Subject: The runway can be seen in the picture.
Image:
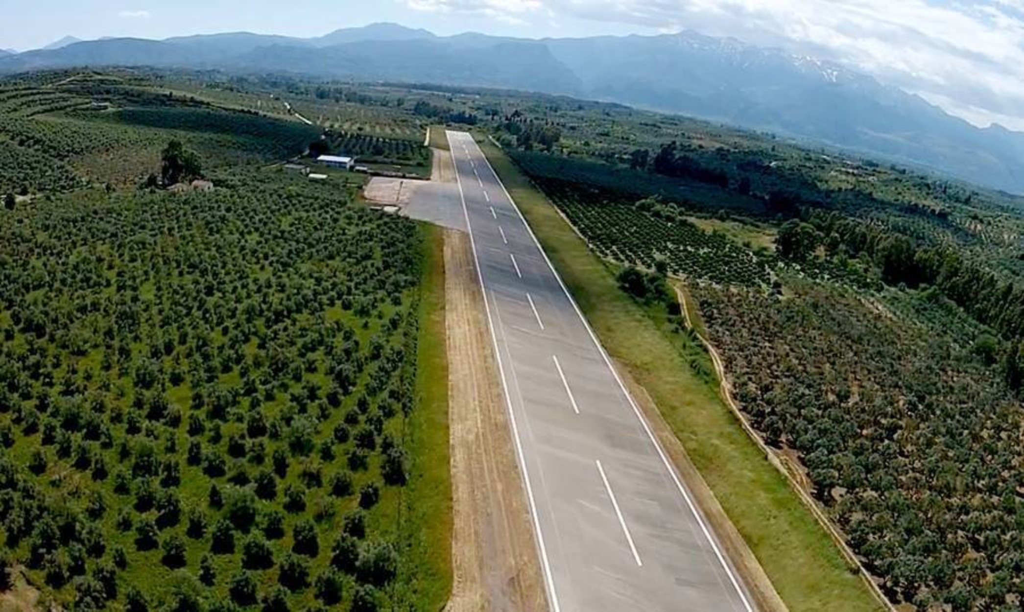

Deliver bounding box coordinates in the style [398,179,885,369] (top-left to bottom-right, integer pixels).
[447,131,757,612]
